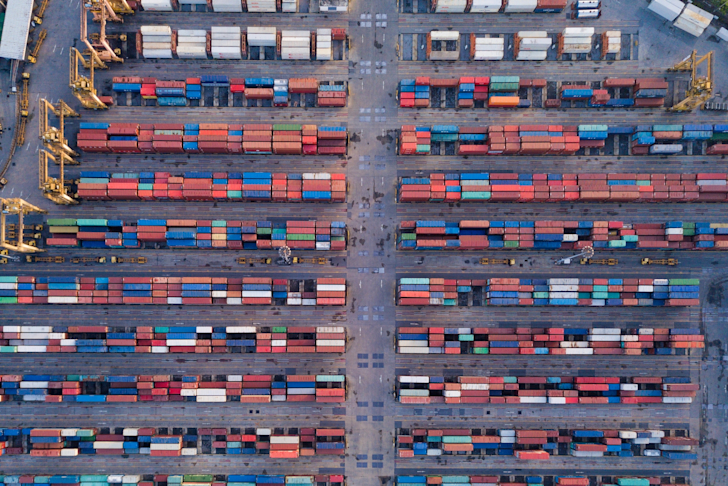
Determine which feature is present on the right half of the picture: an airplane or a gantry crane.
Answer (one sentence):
The one visible on the right half of the picture is a gantry crane.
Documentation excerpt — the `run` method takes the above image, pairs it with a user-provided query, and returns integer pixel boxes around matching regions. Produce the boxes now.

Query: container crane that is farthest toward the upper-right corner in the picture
[667,50,719,112]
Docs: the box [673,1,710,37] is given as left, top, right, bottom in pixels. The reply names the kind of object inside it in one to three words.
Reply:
shed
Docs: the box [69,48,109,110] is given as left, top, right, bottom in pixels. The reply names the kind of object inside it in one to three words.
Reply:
container crane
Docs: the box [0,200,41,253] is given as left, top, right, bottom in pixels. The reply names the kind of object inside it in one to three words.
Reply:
container crane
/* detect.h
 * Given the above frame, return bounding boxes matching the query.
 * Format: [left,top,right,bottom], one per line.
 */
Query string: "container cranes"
[69,48,109,110]
[38,99,81,158]
[79,0,119,63]
[0,200,41,253]
[667,50,719,112]
[38,149,81,205]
